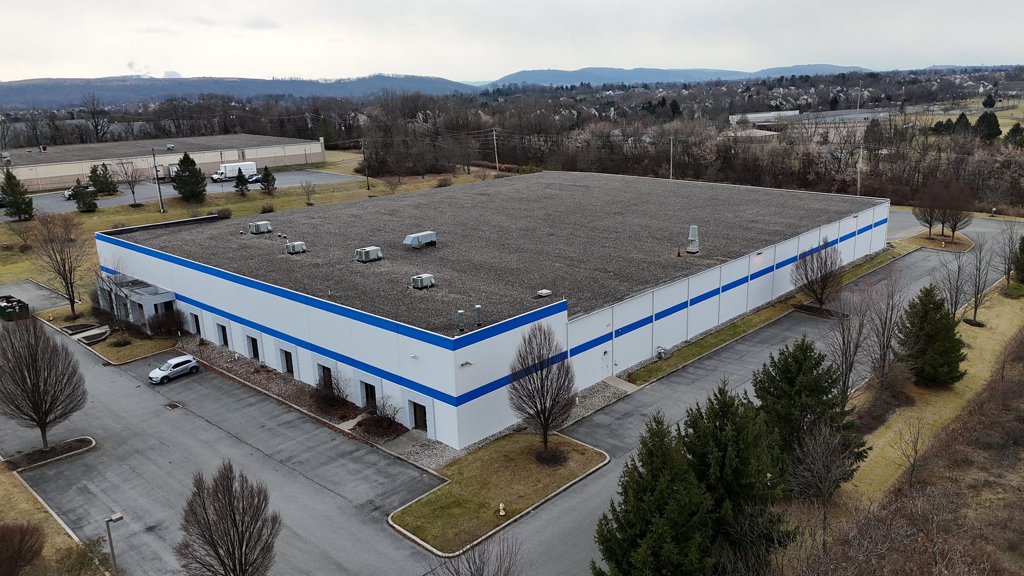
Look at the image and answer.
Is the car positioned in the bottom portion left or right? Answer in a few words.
left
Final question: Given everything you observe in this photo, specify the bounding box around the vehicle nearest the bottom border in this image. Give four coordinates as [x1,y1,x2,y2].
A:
[148,356,201,385]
